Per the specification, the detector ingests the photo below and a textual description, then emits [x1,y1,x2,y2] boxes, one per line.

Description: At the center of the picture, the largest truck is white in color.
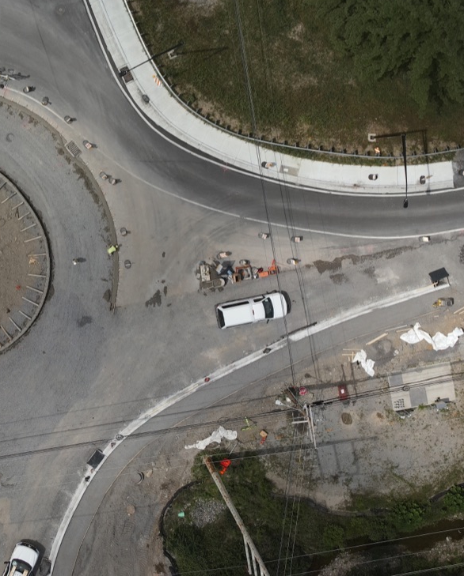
[215,293,292,329]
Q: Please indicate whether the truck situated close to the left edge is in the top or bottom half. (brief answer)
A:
bottom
